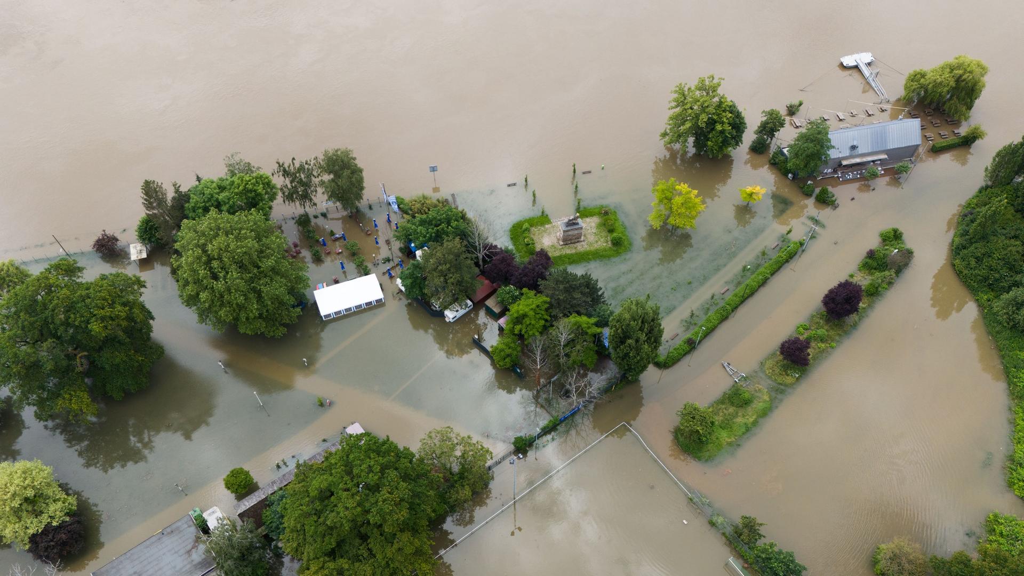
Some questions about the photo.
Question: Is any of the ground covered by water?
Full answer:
Yes, there's water in this view.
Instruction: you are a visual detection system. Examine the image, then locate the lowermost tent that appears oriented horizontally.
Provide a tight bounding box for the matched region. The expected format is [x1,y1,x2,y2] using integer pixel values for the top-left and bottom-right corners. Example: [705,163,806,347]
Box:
[314,273,386,320]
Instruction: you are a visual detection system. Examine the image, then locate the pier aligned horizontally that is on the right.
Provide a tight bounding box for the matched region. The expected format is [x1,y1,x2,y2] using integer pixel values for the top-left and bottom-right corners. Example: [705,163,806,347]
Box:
[840,50,874,67]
